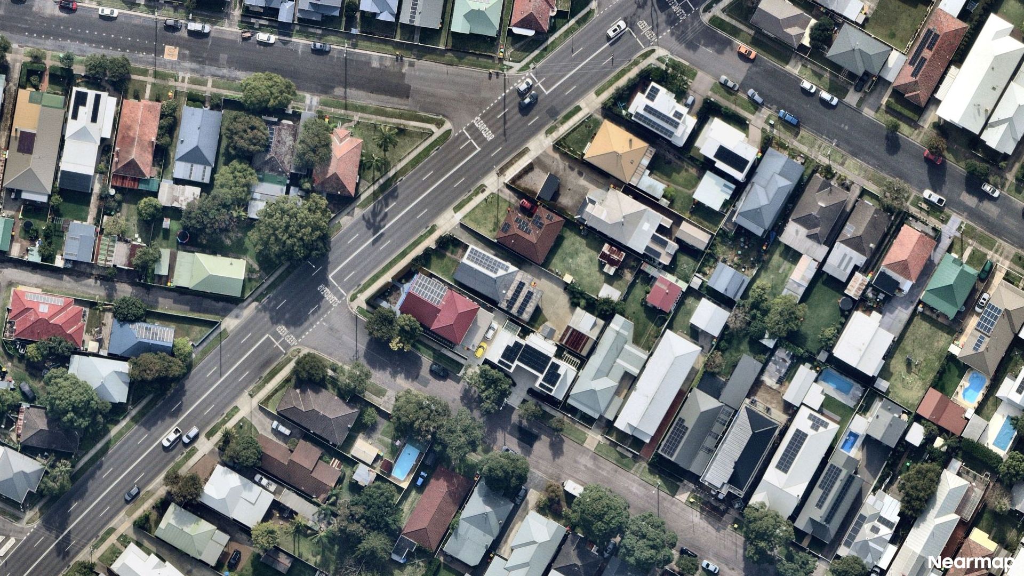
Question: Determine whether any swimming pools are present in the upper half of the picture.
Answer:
No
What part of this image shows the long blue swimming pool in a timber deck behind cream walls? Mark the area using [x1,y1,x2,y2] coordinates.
[390,442,421,481]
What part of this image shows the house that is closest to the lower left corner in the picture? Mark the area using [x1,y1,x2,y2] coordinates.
[0,446,45,503]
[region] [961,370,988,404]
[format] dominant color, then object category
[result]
blue swimming pool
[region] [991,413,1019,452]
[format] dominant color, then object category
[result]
blue swimming pool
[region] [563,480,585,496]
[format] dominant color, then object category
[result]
white camper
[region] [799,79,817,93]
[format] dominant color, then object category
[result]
white car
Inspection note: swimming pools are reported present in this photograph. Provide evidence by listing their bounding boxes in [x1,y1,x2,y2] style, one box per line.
[961,370,988,404]
[840,431,862,454]
[991,413,1019,452]
[819,366,856,397]
[390,442,421,481]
